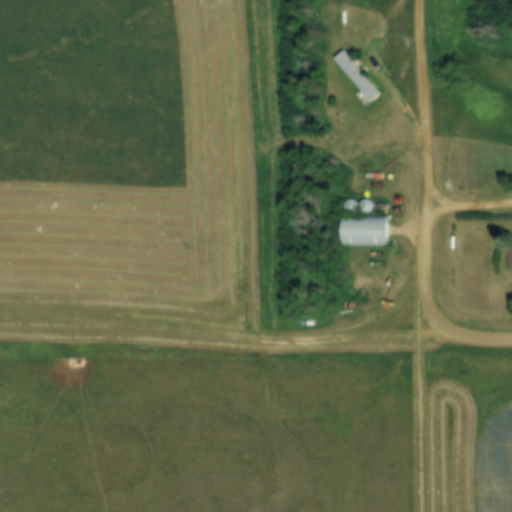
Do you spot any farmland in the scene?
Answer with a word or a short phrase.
Yes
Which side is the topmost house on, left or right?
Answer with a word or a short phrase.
right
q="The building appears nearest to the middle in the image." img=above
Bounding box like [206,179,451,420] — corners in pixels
[340,218,391,246]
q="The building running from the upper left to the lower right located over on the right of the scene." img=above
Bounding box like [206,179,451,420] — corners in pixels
[334,50,380,104]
